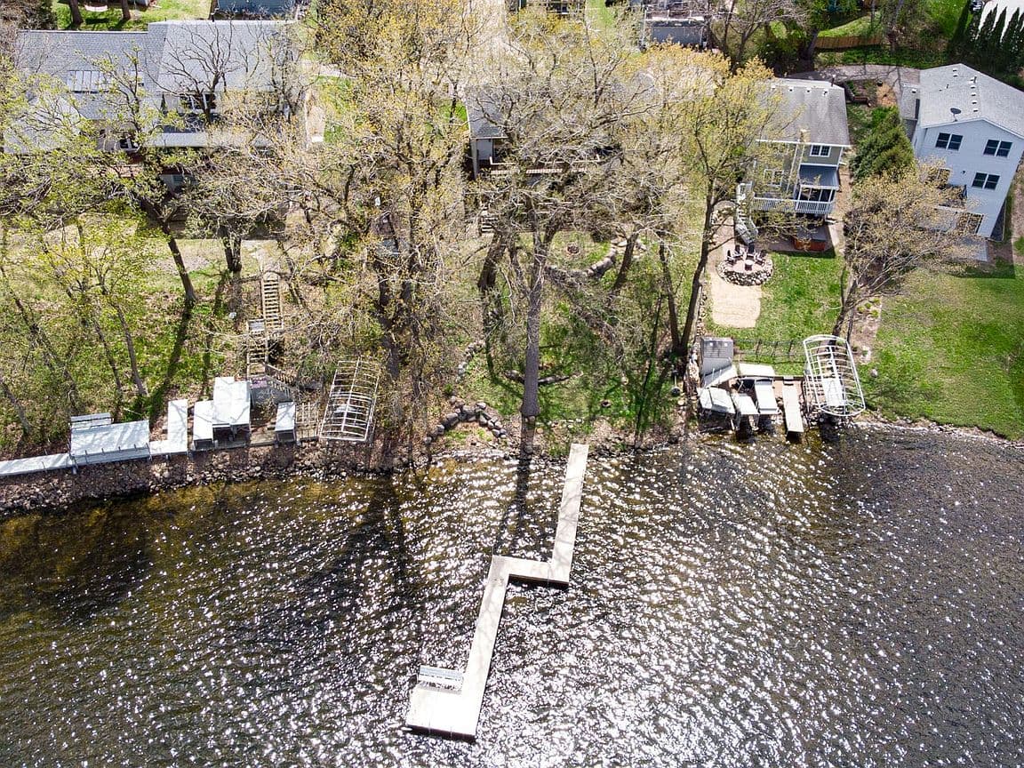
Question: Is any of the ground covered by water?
Yes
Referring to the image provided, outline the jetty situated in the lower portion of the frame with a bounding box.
[403,442,589,749]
